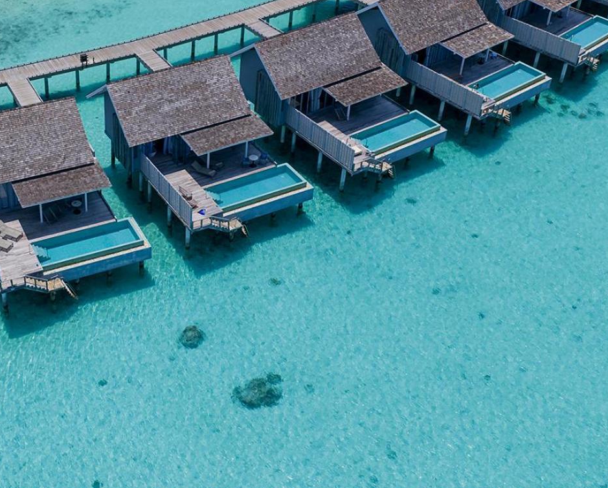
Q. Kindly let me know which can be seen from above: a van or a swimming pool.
swimming pool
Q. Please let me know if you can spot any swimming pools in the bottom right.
No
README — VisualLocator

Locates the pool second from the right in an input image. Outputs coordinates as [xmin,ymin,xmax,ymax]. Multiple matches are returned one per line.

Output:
[463,61,551,111]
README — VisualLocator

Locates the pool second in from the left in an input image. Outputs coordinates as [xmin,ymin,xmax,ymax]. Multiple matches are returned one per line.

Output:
[200,162,313,222]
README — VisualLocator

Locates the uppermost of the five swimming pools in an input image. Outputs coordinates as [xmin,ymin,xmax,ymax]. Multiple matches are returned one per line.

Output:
[554,15,608,58]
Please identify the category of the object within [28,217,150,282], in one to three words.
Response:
swimming pool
